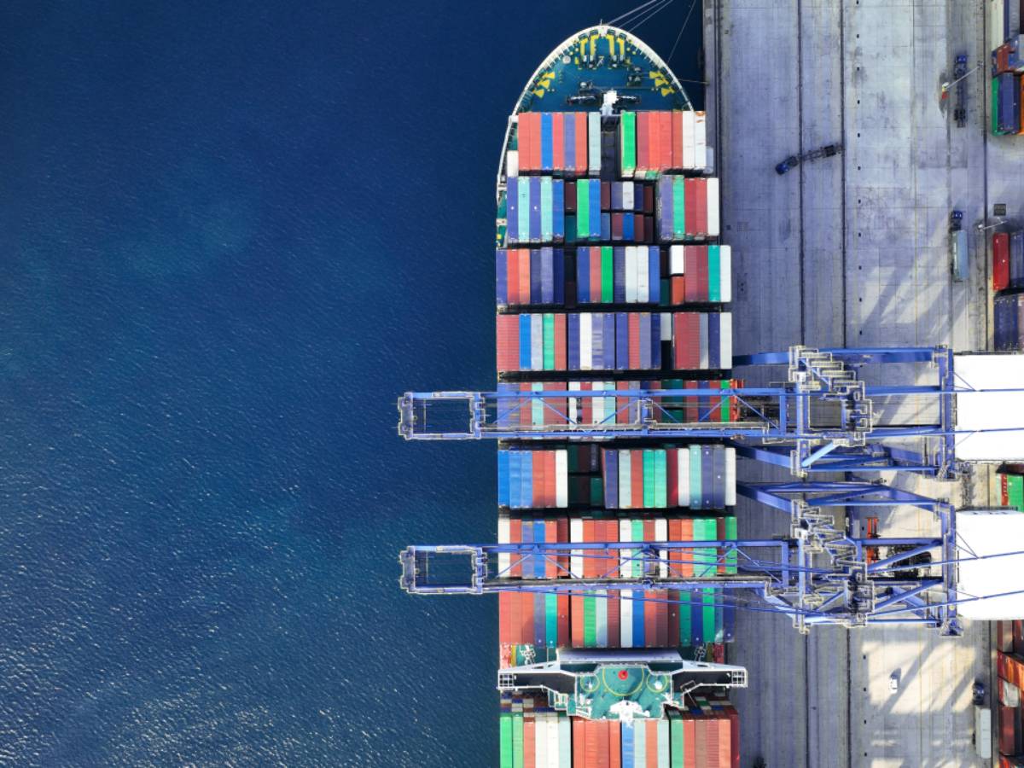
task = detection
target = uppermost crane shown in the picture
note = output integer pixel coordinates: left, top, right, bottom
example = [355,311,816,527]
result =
[396,335,1024,481]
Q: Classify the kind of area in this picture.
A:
port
